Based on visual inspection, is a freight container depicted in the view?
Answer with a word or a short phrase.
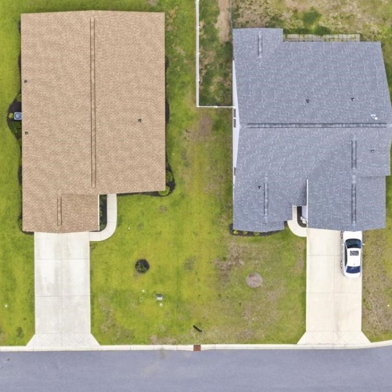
No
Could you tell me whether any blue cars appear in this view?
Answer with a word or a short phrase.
No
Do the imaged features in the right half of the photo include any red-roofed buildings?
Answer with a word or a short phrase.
No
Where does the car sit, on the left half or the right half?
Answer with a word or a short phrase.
right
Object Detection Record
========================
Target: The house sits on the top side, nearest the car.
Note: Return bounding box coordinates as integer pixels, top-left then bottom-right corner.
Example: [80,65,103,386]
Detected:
[230,28,392,233]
